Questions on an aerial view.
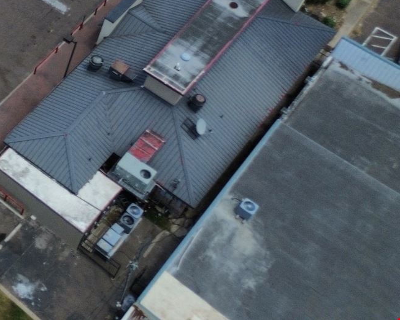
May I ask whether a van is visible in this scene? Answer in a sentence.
No, I can't see a single van in this photo.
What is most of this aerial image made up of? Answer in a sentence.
The scene is dominated by buildings.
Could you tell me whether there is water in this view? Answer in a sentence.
No, the picture contains no water.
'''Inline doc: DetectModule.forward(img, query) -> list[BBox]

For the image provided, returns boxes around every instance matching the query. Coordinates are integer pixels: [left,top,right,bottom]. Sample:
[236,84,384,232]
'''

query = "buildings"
[0,0,328,250]
[122,34,400,320]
